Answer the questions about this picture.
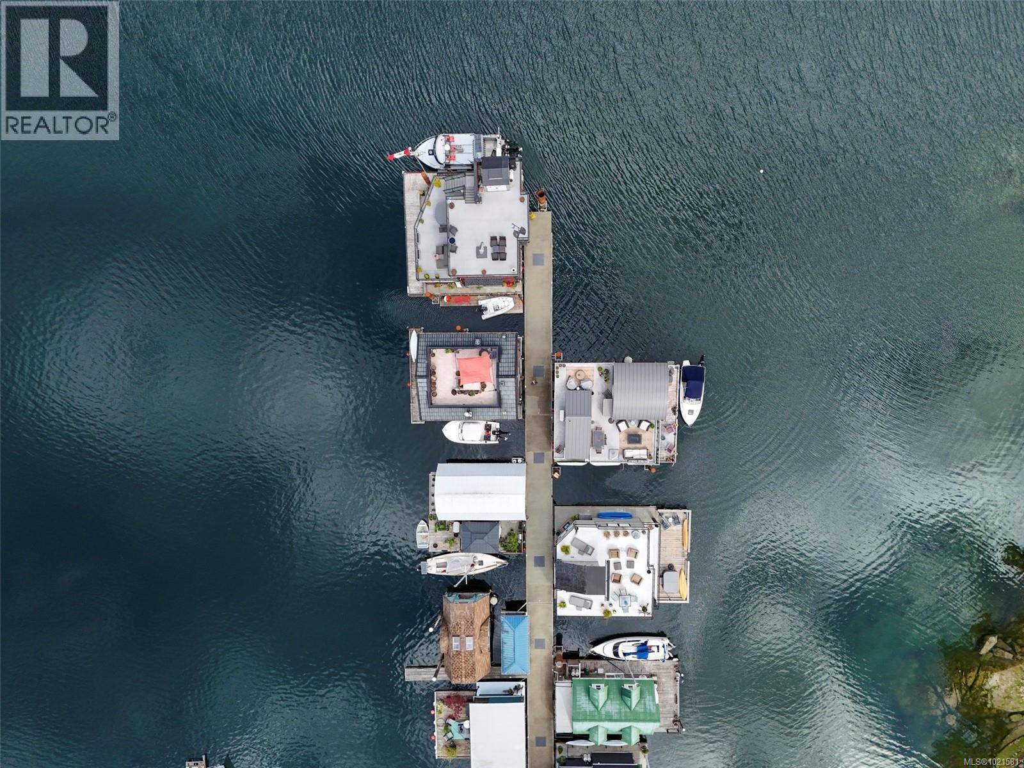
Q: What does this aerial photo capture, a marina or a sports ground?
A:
marina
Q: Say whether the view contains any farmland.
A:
No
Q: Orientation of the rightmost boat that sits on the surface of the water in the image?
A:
vertically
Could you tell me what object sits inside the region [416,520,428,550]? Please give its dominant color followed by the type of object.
white boat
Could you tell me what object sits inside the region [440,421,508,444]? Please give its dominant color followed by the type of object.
white boat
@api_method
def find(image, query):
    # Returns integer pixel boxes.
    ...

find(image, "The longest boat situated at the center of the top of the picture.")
[386,122,518,167]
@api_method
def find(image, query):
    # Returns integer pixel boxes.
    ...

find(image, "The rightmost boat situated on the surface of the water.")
[679,355,708,429]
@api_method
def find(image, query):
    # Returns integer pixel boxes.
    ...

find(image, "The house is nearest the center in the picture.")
[409,327,523,423]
